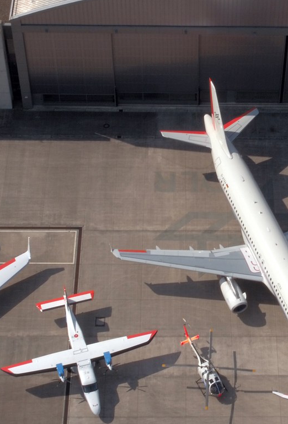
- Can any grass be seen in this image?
No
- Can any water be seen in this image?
No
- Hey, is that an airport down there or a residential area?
airport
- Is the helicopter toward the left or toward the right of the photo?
right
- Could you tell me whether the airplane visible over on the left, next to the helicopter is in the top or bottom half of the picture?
bottom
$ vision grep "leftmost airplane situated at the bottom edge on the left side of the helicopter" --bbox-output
[0,287,156,415]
